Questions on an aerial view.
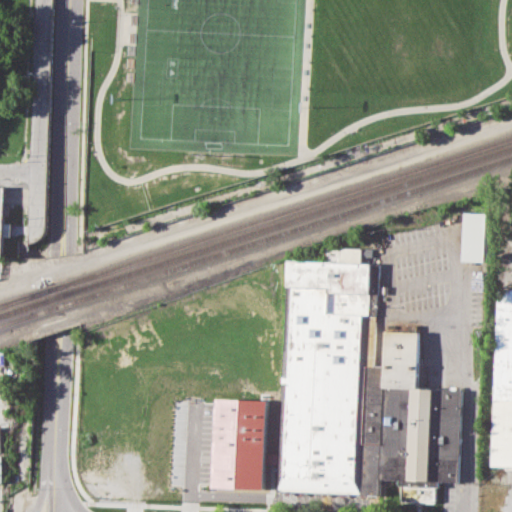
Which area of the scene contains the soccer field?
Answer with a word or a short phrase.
top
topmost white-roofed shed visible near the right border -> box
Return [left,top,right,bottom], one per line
[461,213,487,264]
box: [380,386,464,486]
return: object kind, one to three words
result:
building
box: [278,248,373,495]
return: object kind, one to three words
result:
building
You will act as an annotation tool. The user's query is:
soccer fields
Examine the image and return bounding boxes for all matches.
[131,0,304,156]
